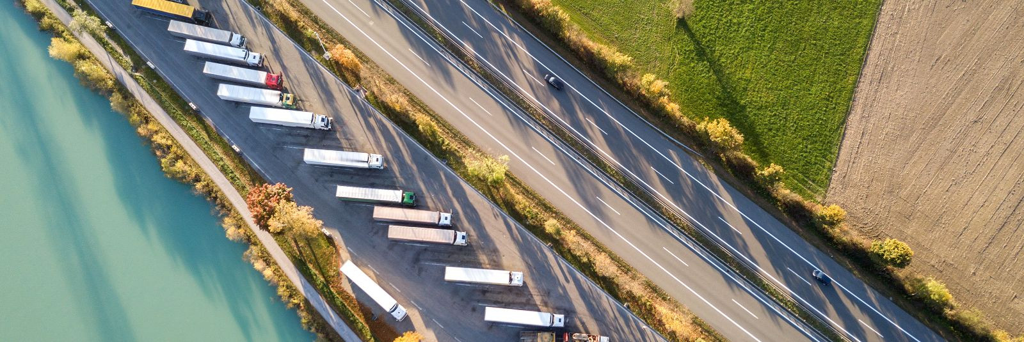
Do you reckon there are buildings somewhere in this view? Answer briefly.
No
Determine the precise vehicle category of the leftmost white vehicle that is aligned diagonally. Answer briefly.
truck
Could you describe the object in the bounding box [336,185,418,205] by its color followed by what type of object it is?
white vehicle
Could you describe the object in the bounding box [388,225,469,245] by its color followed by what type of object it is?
white vehicle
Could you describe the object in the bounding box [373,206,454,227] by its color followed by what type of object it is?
white truck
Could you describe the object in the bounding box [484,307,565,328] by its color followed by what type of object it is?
white truck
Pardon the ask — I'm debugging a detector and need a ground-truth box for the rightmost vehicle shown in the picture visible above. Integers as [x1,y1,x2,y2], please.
[811,269,832,286]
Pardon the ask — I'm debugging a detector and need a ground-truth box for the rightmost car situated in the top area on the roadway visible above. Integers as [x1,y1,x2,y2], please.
[544,75,564,91]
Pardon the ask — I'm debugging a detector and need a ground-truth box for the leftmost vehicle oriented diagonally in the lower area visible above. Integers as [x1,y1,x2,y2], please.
[340,260,411,322]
